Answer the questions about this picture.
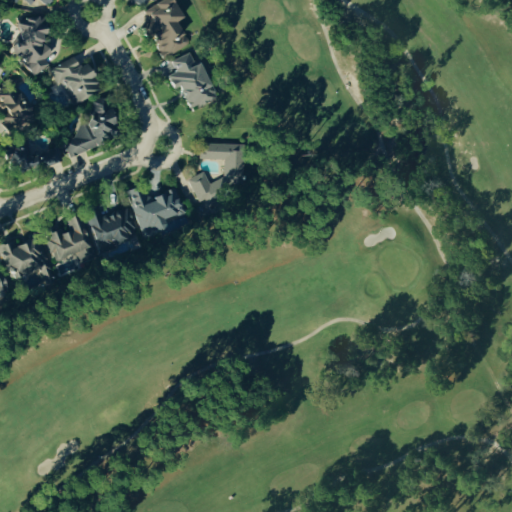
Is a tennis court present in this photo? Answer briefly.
No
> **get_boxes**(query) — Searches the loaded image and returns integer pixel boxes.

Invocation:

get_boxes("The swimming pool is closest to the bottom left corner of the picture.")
[58,260,79,272]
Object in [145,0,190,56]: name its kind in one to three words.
house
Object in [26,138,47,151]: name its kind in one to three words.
swimming pool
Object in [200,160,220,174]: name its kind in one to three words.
swimming pool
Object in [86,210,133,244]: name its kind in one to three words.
house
